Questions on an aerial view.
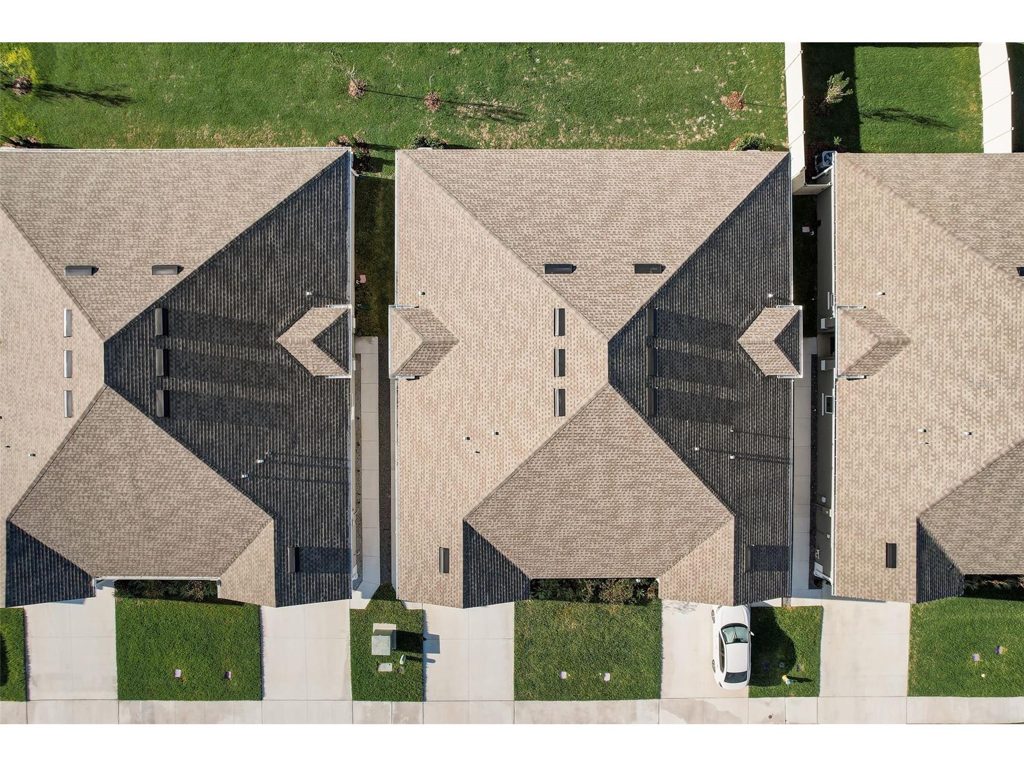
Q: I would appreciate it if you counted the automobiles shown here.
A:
1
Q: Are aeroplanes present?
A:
No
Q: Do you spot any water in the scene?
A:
No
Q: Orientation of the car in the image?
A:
from top to bottom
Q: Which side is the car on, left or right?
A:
right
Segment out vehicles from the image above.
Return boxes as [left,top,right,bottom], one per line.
[712,605,756,691]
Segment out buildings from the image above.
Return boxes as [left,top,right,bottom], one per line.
[0,148,361,607]
[388,148,806,608]
[812,152,1024,603]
